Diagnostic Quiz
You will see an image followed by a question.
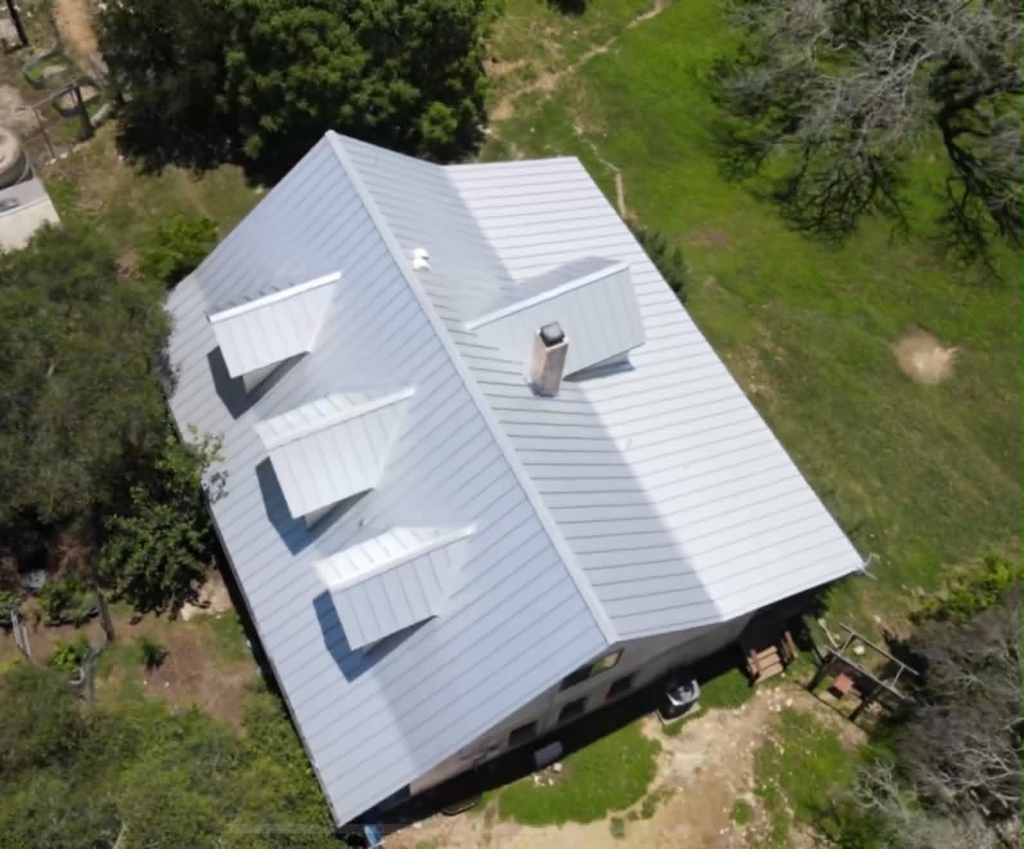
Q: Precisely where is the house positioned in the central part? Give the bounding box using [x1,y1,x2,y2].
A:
[138,128,878,828]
